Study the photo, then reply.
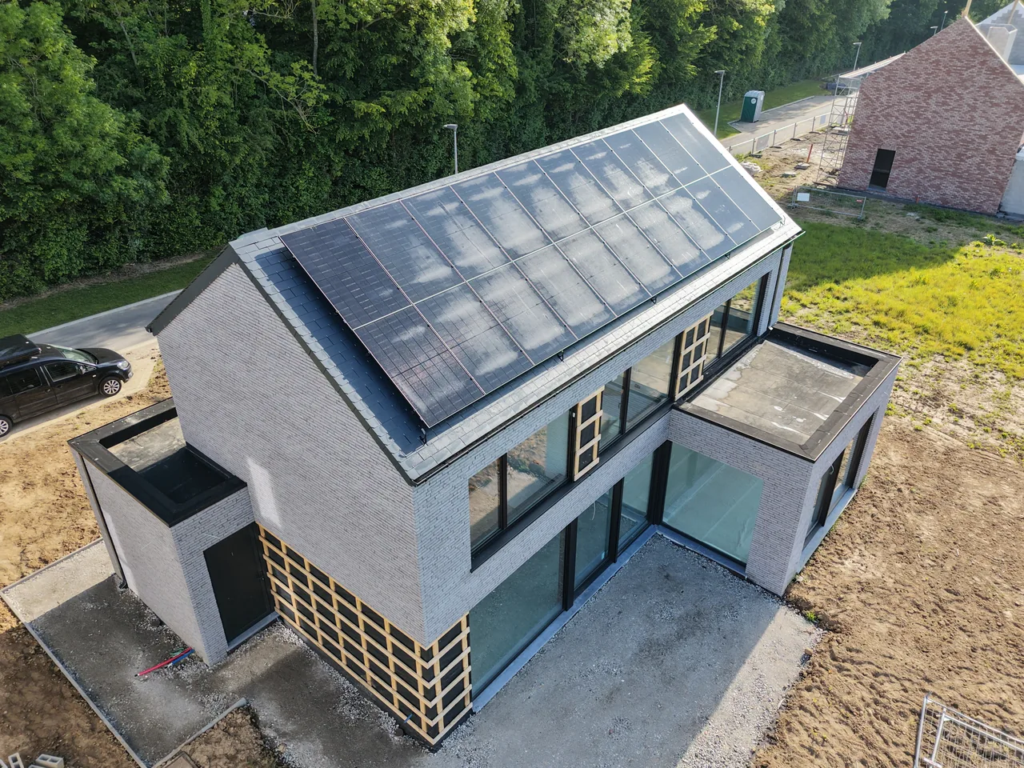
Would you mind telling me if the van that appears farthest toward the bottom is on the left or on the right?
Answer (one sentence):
You can find the van that appears farthest toward the bottom on the left side of the picture.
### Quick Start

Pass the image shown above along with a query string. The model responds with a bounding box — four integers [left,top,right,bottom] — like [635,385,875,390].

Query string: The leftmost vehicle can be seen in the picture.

[0,339,134,438]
